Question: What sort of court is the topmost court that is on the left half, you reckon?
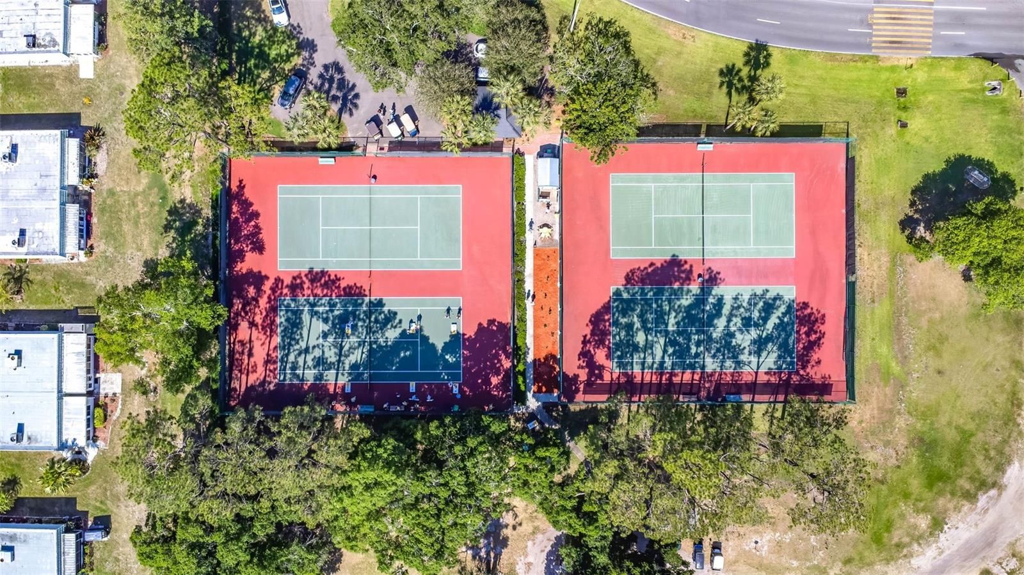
tennis court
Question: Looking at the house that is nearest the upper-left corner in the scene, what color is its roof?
white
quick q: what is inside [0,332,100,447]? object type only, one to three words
house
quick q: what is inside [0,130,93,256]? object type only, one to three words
house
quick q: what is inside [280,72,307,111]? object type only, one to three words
car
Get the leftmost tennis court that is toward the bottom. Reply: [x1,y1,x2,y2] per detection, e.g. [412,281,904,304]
[229,283,513,412]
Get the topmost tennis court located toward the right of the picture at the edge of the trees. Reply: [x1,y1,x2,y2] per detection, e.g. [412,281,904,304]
[562,142,847,272]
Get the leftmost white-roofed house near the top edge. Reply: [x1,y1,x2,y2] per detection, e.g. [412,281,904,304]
[0,0,106,60]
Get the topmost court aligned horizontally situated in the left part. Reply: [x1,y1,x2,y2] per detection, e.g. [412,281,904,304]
[229,155,513,283]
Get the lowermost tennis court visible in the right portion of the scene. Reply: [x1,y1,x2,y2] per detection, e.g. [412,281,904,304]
[562,272,847,403]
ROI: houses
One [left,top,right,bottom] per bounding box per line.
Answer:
[0,522,90,575]
[0,332,100,447]
[0,130,93,256]
[0,0,106,60]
